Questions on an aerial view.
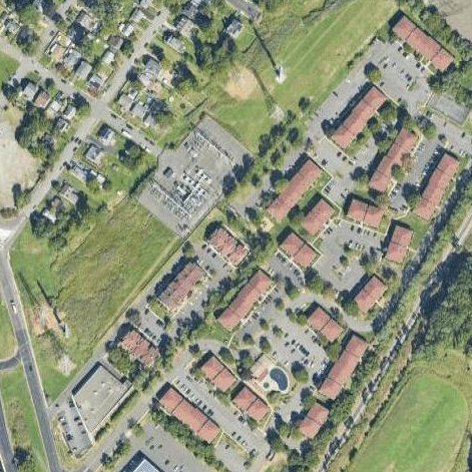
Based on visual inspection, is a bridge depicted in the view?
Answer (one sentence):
No, there's no bridge here.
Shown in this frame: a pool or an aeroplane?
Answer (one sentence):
Of the two, only a pool appears.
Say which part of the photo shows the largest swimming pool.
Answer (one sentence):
The largest swimming pool appears toward the bottom of the photo.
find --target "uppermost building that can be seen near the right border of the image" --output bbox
[392,15,454,71]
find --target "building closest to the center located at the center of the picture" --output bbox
[207,229,249,265]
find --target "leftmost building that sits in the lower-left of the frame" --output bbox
[72,365,133,441]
